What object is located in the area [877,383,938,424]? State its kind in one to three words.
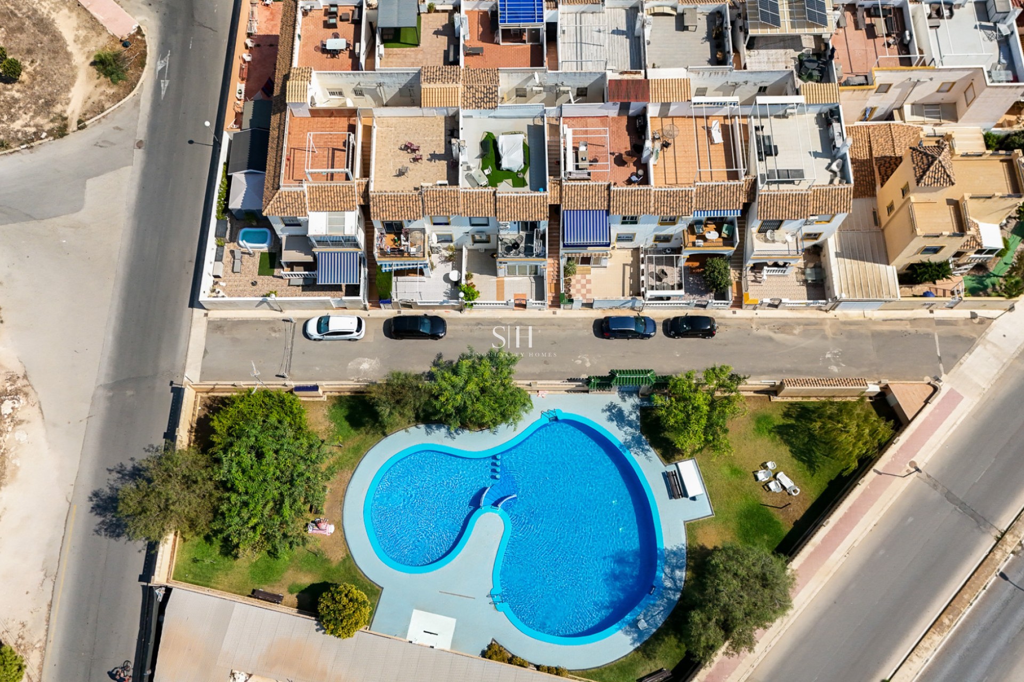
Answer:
building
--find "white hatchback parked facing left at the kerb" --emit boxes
[308,314,366,342]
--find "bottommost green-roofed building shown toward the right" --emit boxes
[586,367,690,405]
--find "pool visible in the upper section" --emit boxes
[237,229,274,251]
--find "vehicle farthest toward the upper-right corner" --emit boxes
[666,314,718,341]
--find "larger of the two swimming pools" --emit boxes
[363,407,665,647]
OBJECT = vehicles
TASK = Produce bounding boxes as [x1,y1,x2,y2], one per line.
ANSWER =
[601,314,657,342]
[666,314,718,341]
[308,314,366,342]
[390,313,448,341]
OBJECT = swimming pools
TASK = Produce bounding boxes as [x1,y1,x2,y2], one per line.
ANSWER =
[237,229,274,251]
[363,407,665,647]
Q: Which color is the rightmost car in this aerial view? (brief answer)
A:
black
